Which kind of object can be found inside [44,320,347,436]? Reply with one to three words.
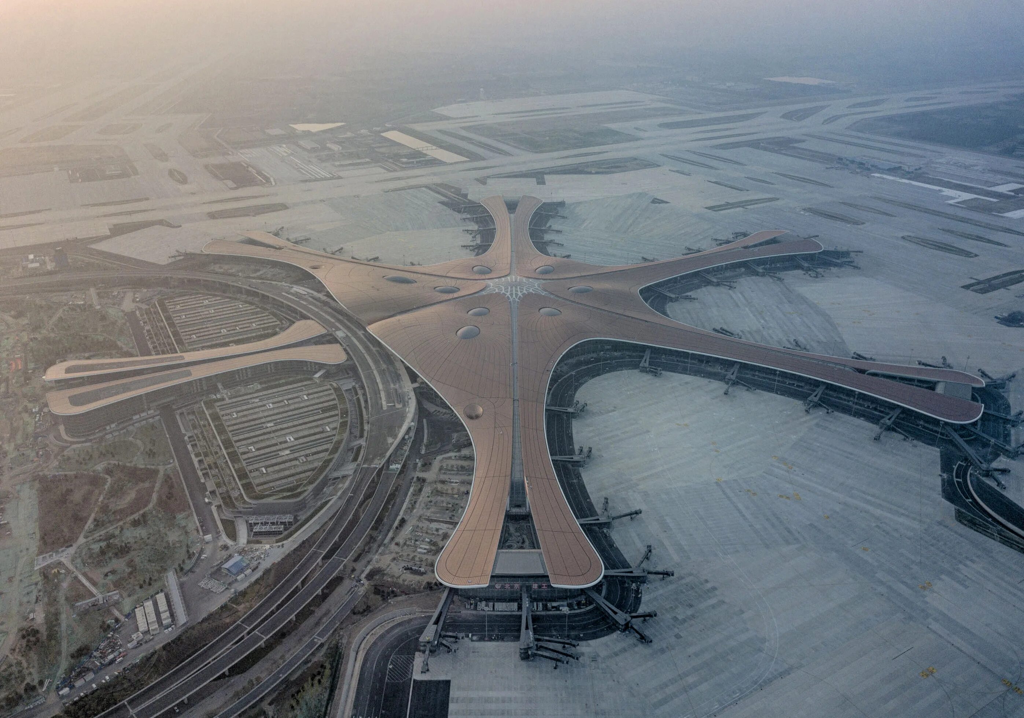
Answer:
building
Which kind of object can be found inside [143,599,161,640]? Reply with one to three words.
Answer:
building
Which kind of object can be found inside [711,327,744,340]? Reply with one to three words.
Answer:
jet bridge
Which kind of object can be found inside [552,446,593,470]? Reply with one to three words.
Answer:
jet bridge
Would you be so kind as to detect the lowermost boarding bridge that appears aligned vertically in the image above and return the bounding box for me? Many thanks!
[421,588,469,678]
